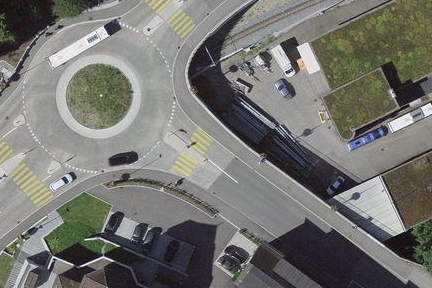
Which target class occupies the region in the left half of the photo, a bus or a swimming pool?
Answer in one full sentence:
Visible in the left half of the photo is a bus.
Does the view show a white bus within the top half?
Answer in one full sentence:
Yes, a white bus appears within the top half.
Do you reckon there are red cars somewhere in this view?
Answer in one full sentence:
No, there appears to be no red car in this shot.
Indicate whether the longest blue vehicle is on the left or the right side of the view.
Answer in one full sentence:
You can find the longest blue vehicle on the right side of the picture.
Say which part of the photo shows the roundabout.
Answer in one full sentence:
You can find the roundabout in the left area of the picture.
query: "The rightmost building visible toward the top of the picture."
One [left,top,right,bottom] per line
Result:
[394,74,432,107]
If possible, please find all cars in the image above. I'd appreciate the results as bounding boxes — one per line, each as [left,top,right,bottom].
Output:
[142,225,163,252]
[130,221,148,245]
[325,174,346,196]
[110,152,136,164]
[274,78,294,102]
[164,238,182,264]
[224,245,250,263]
[48,172,72,192]
[104,210,124,236]
[216,254,242,272]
